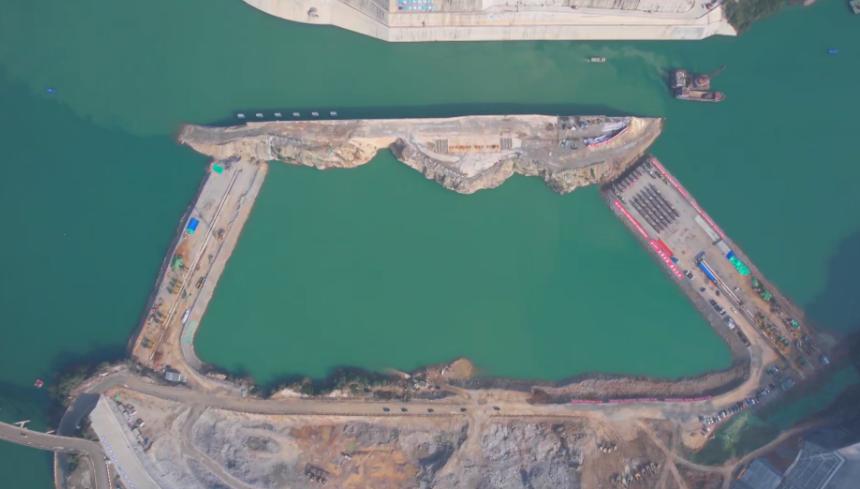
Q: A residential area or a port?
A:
port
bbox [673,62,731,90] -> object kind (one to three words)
ship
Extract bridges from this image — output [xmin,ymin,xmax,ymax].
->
[0,420,83,456]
